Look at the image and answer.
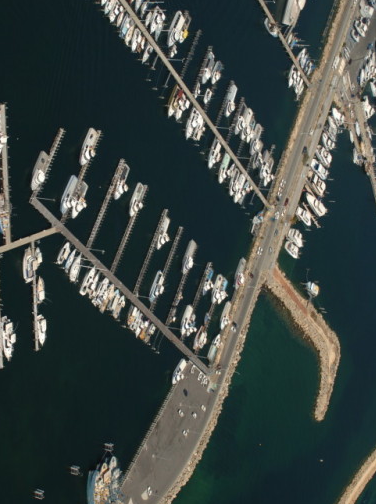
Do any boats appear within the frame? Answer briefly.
Yes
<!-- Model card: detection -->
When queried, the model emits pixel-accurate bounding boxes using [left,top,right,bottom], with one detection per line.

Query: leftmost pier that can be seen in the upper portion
[0,103,14,246]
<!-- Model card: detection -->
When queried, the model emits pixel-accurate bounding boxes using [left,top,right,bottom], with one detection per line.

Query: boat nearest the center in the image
[183,239,199,273]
